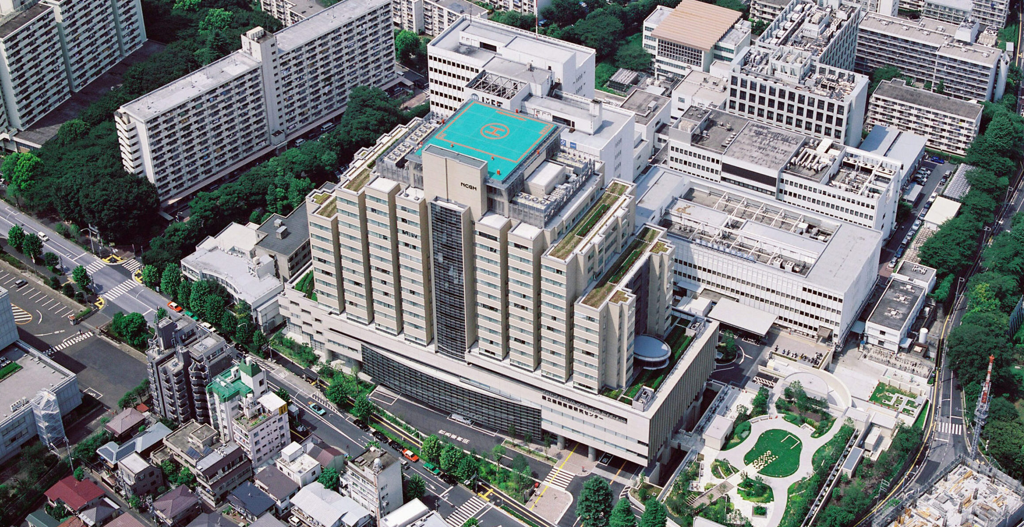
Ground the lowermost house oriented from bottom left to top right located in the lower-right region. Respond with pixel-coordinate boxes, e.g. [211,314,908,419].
[841,447,864,480]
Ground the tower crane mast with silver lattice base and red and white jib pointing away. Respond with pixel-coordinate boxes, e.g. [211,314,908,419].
[969,357,994,460]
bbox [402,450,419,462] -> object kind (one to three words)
vehicle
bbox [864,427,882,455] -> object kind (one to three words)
house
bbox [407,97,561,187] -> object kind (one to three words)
helipad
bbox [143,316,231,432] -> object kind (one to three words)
building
